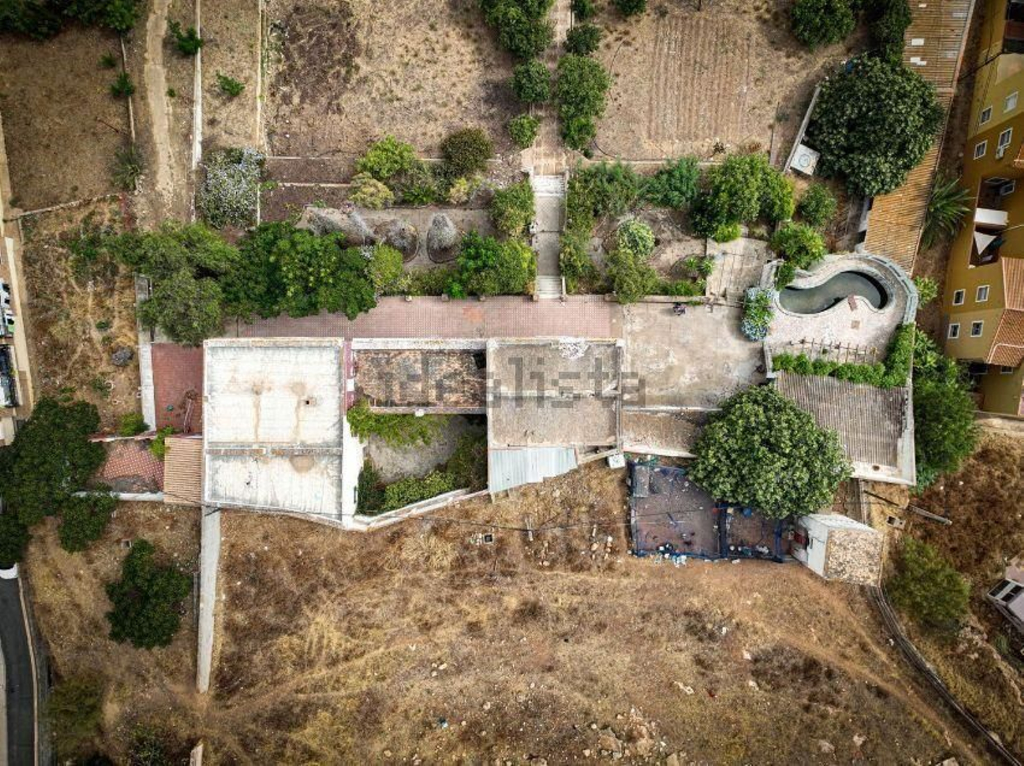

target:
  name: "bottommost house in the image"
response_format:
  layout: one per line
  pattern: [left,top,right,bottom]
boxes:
[973,551,1024,640]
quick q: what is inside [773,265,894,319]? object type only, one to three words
swimming pool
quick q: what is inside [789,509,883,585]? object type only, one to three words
shed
